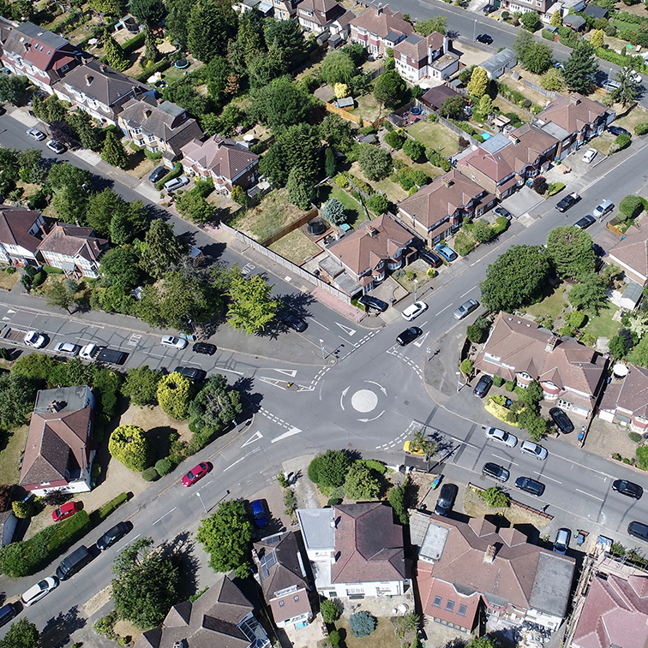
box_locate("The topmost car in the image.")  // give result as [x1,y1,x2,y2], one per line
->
[475,34,494,46]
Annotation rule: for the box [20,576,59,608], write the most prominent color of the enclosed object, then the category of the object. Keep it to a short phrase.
white car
